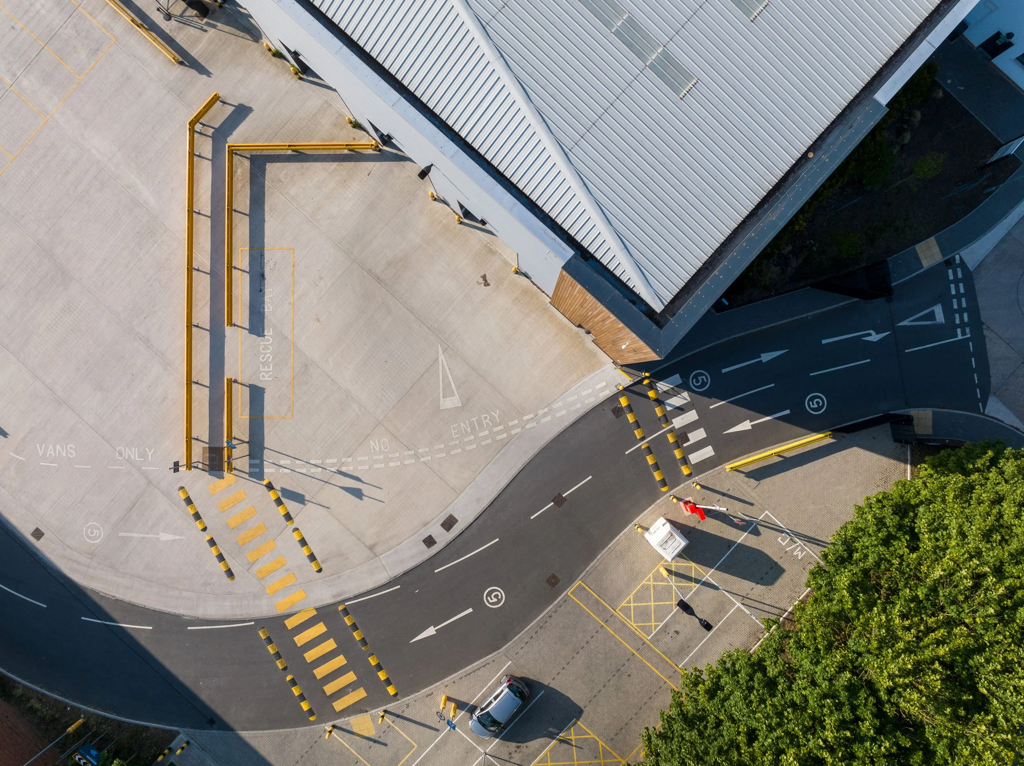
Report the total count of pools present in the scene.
0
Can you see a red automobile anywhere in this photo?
No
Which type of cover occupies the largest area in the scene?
paved ground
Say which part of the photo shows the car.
bottom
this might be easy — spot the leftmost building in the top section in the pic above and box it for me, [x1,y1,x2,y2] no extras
[237,0,980,367]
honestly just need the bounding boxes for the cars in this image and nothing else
[466,674,533,744]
